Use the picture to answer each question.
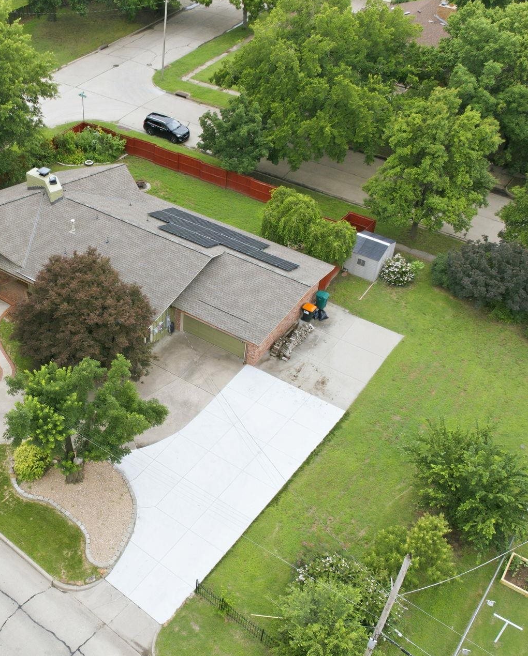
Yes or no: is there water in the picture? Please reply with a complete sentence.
No, the picture contains no water.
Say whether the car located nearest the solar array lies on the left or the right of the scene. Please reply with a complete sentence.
You can find the car located nearest the solar array on the left side of the picture.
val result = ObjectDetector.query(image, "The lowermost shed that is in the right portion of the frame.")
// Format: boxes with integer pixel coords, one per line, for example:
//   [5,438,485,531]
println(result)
[346,234,397,280]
